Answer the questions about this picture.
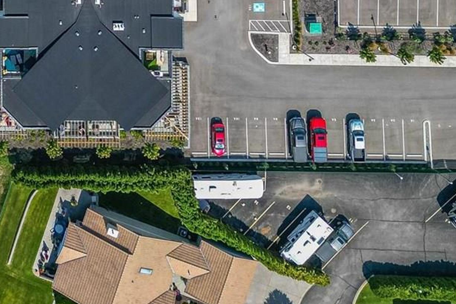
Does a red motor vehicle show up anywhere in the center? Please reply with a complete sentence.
Yes, I can see a red motor vehicle in the center.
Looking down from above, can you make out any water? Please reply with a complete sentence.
No, no water is visible.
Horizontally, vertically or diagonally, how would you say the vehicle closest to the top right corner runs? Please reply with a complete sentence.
The vehicle closest to the top right corner has been laid out vertically relative to the frame.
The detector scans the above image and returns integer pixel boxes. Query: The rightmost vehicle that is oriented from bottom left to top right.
[314,219,356,263]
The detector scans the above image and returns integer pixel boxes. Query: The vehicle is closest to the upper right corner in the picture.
[348,119,369,162]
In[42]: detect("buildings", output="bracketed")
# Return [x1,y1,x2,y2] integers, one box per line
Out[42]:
[0,0,189,149]
[52,200,257,304]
